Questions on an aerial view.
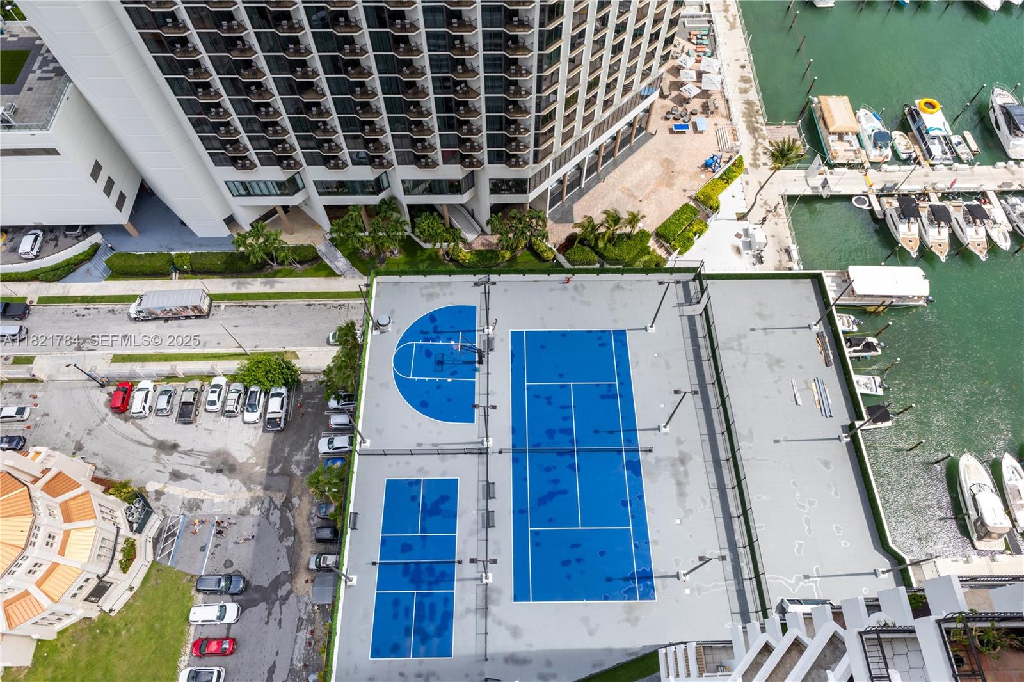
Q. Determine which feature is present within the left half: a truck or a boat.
truck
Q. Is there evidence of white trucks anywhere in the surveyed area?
Yes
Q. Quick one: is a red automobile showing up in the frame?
Yes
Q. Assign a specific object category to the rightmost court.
tennis court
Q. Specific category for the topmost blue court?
basketball court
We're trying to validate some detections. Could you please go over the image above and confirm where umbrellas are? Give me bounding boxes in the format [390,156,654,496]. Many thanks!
[675,55,698,71]
[679,71,697,86]
[679,84,702,107]
[697,58,724,75]
[700,76,722,99]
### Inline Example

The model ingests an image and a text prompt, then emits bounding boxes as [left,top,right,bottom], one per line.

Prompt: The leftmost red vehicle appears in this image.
[113,383,138,414]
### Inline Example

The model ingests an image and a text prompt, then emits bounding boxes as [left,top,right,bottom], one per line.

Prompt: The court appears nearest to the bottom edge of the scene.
[370,478,459,660]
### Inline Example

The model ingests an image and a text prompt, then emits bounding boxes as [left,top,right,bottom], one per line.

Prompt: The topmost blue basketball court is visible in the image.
[392,304,477,424]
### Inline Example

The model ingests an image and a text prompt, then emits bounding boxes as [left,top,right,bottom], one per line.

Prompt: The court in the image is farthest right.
[510,329,657,605]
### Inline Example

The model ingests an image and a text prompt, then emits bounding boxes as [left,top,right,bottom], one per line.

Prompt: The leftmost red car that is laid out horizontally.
[192,636,240,659]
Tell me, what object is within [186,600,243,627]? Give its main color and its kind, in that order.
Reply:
white car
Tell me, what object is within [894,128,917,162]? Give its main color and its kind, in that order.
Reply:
white boat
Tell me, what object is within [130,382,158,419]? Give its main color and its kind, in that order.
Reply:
white car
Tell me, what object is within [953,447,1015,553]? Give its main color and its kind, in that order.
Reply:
white boat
